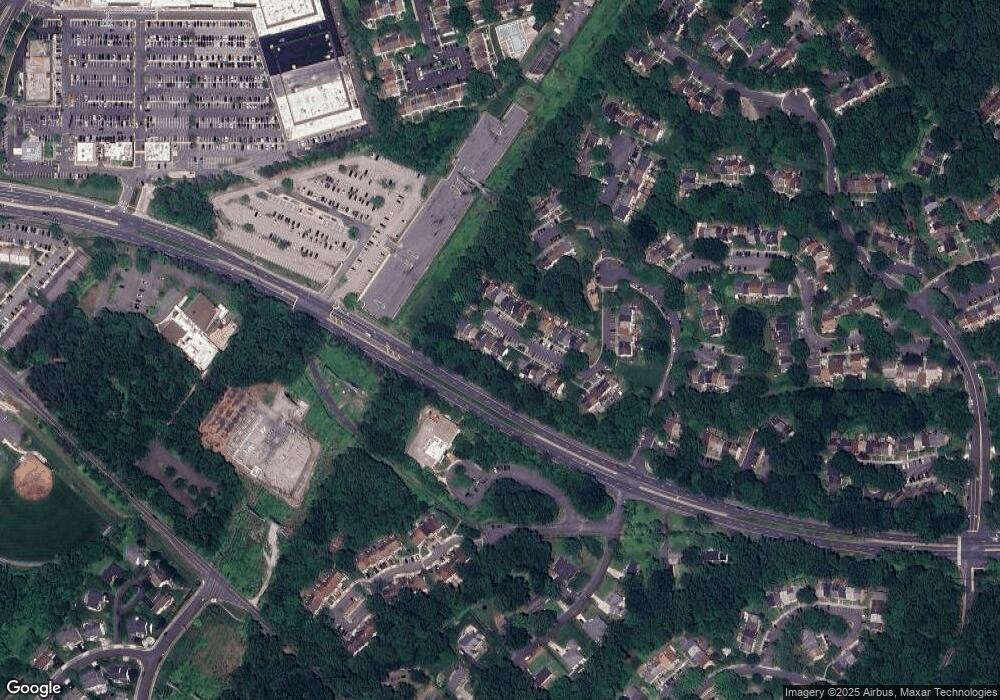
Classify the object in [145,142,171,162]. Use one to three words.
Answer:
building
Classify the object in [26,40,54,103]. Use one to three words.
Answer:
building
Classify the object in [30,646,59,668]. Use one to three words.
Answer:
house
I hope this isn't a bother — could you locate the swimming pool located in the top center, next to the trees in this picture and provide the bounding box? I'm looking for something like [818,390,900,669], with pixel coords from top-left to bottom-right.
[496,17,538,61]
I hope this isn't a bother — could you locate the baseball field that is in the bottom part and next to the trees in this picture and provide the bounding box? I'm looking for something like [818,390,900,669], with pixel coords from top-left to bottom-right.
[0,451,107,562]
